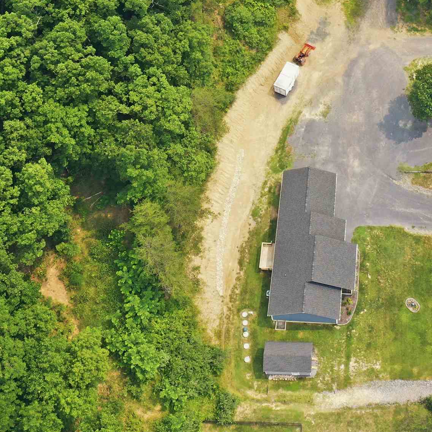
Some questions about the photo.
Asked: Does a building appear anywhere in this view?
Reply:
Yes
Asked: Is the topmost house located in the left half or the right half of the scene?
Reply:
right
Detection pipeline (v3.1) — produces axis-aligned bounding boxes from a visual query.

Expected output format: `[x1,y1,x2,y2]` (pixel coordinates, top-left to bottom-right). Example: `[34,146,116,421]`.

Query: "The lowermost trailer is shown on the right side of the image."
[273,65,298,103]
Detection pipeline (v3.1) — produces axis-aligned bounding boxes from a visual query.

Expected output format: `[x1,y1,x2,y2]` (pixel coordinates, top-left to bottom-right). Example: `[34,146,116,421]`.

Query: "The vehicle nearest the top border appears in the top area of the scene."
[293,48,313,69]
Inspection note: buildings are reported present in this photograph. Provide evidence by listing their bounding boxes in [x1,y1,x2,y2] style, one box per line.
[261,168,357,334]
[263,343,319,376]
